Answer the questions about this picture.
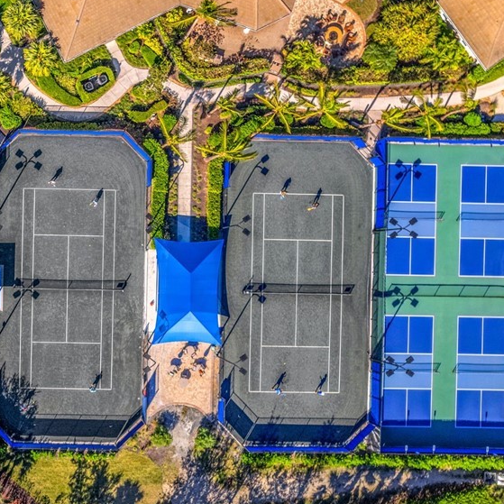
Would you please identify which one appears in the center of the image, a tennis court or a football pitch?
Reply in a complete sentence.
There is a tennis court in the center of the image.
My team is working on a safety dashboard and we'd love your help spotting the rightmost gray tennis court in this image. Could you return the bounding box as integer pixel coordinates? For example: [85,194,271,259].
[221,140,374,446]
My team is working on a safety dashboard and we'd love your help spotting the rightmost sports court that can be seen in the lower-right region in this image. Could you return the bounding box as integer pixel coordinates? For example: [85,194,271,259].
[445,298,504,448]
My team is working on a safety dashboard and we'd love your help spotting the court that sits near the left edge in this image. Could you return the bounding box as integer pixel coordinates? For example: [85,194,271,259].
[0,135,146,444]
